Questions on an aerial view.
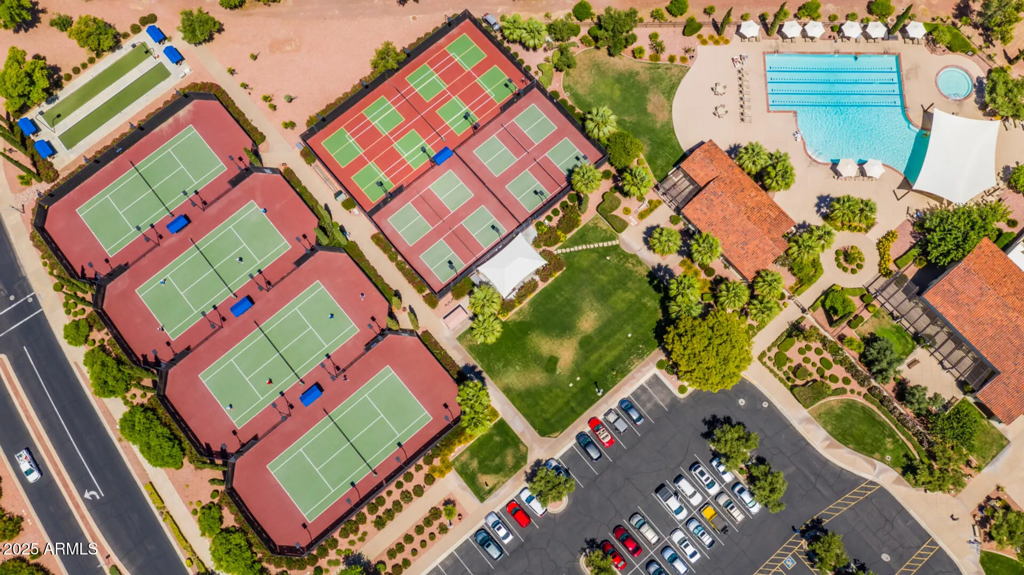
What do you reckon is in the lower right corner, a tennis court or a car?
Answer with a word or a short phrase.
car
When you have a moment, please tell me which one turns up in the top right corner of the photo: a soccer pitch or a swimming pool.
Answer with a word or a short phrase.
swimming pool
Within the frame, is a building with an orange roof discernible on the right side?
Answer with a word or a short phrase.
Yes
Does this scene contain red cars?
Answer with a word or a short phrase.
Yes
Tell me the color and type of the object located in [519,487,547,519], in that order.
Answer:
white car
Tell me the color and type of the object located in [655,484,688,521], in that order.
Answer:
white vehicle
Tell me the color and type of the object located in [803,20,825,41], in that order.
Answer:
white umbrella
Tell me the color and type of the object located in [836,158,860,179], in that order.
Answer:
white umbrella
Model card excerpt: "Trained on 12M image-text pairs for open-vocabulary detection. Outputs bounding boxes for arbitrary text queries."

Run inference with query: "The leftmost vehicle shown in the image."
[13,448,41,483]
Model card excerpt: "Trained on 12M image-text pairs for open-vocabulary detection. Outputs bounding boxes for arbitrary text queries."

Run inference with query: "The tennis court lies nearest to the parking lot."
[233,335,461,554]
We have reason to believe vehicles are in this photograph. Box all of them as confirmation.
[674,475,702,507]
[613,525,643,560]
[13,448,41,483]
[519,487,547,519]
[699,503,728,534]
[618,397,645,427]
[714,492,745,524]
[661,546,690,575]
[708,458,734,485]
[600,539,628,571]
[687,518,715,549]
[482,10,499,34]
[670,528,701,564]
[587,416,615,449]
[629,513,660,547]
[691,462,719,496]
[576,432,600,463]
[475,528,503,562]
[731,483,759,514]
[646,560,668,575]
[506,500,530,530]
[485,511,513,544]
[655,484,688,521]
[603,408,628,436]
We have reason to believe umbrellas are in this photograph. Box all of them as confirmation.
[862,159,885,181]
[839,20,863,40]
[836,158,860,179]
[904,20,926,41]
[738,20,761,40]
[780,20,803,40]
[865,21,888,40]
[803,20,825,41]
